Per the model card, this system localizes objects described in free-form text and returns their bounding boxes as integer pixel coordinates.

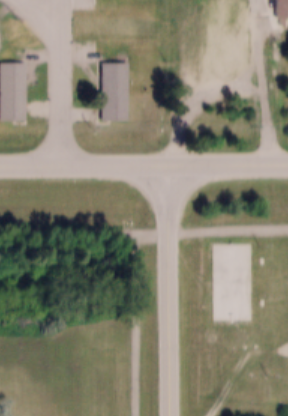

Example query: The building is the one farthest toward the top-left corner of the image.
[0,62,26,122]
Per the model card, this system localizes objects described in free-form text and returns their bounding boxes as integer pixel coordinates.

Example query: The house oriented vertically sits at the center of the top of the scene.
[100,62,129,121]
